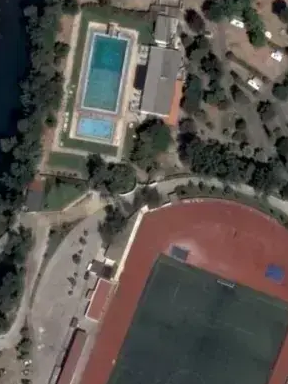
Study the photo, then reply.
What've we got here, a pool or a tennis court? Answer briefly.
pool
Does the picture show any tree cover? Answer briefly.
Yes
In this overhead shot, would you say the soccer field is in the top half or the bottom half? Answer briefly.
bottom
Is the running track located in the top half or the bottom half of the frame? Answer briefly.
bottom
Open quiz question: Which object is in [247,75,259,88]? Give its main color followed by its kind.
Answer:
white vehicle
